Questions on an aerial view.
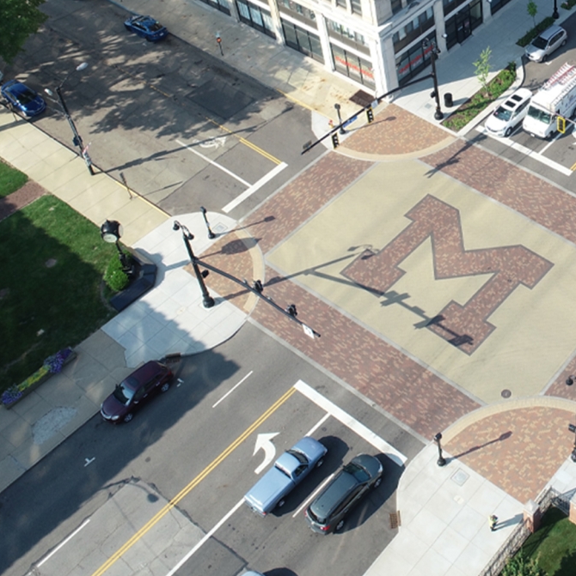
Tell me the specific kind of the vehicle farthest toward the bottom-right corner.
automobile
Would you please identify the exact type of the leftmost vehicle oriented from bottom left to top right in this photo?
car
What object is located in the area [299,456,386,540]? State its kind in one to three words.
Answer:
car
